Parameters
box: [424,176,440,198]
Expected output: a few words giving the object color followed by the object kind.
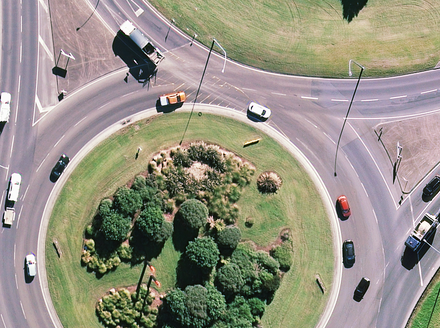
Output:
black car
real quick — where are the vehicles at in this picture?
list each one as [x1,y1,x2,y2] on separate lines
[340,195,352,217]
[249,102,272,118]
[120,19,164,65]
[424,176,440,198]
[52,156,69,180]
[406,214,438,252]
[344,241,355,265]
[160,92,186,106]
[0,92,12,122]
[8,174,20,202]
[356,277,371,299]
[26,254,36,276]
